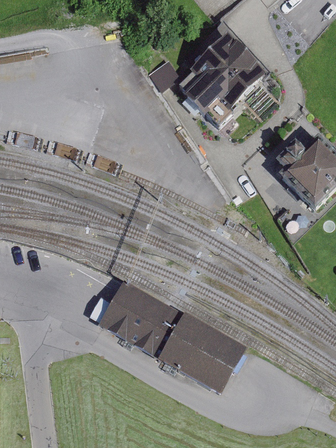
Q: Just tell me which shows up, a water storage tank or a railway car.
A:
railway car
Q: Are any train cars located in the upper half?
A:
Yes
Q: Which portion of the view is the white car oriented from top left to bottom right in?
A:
right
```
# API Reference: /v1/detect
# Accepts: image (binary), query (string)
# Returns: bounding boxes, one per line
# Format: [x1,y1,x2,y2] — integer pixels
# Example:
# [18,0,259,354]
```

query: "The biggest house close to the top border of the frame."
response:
[179,22,266,130]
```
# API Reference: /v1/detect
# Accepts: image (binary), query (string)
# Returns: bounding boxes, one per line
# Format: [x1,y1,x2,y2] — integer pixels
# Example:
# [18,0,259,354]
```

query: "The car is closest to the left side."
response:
[11,246,24,267]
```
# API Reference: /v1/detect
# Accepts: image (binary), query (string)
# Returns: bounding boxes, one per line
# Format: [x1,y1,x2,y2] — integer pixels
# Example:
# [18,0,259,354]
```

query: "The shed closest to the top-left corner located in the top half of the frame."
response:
[148,61,178,94]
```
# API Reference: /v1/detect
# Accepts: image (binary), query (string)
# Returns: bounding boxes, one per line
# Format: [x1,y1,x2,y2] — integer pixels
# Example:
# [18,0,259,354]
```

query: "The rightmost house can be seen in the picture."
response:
[276,134,336,212]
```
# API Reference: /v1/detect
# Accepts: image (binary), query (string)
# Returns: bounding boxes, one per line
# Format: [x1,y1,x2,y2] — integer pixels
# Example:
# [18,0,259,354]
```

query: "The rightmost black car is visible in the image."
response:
[28,250,41,274]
